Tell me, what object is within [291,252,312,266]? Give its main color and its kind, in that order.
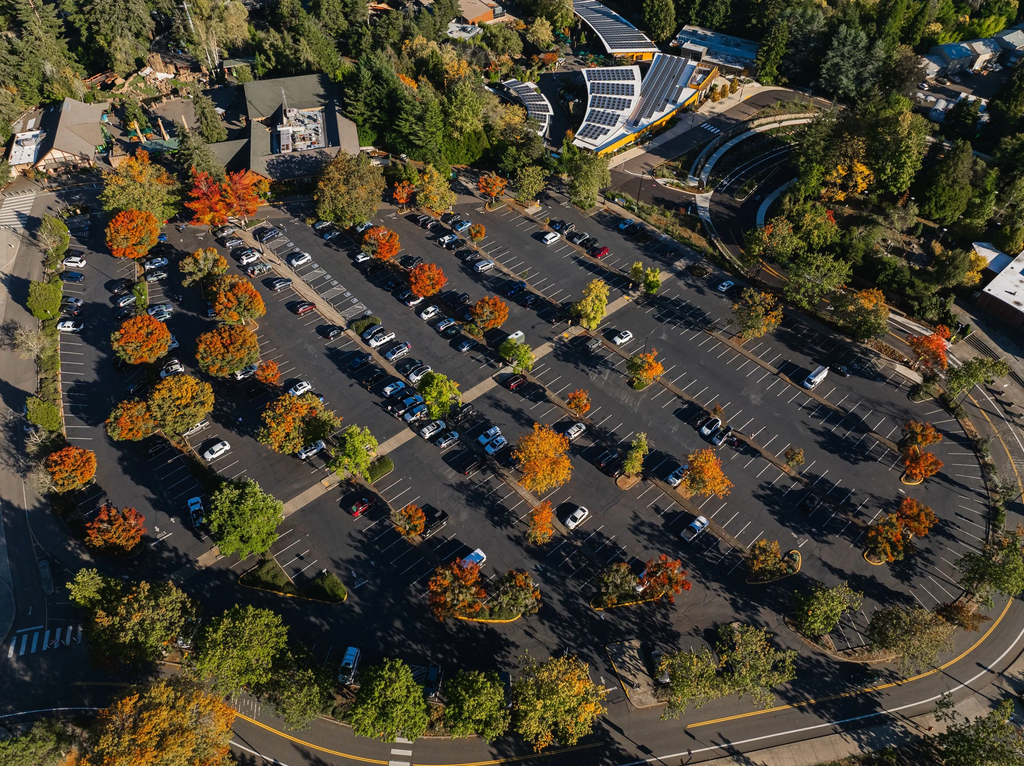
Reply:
white car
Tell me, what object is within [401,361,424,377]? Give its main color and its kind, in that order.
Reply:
black car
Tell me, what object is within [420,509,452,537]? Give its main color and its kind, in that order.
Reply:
black truck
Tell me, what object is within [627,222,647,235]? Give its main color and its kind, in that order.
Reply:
black vehicle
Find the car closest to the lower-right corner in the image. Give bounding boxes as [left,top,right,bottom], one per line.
[849,670,883,689]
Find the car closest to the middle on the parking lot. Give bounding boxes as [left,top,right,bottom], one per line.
[505,373,528,390]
